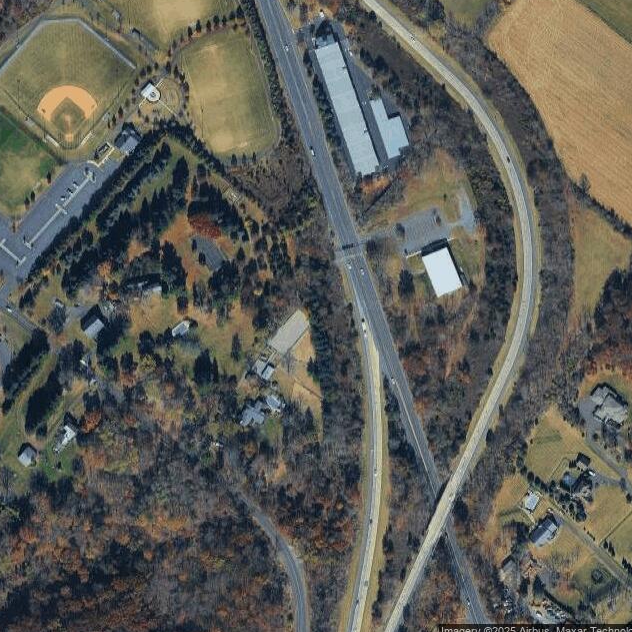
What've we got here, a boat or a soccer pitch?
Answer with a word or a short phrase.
soccer pitch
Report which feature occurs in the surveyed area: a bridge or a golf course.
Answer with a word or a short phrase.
bridge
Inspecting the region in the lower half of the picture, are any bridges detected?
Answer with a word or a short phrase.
Yes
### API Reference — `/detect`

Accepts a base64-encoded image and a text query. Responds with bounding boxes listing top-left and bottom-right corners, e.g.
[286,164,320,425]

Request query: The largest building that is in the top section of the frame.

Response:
[316,42,379,175]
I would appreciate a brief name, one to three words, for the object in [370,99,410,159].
building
